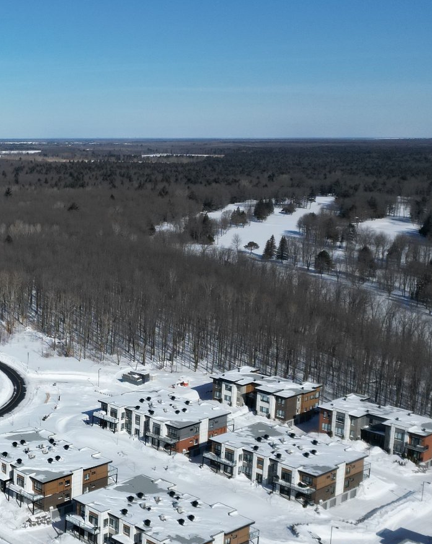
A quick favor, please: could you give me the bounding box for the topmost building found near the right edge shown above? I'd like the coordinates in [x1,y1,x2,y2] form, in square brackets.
[319,394,432,465]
